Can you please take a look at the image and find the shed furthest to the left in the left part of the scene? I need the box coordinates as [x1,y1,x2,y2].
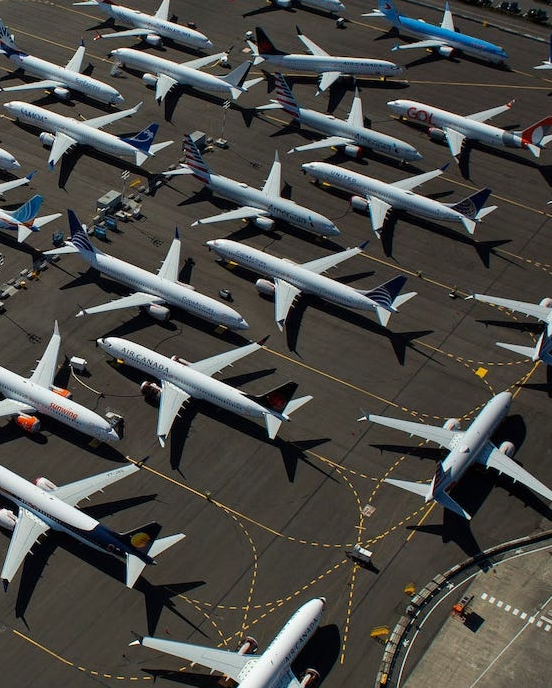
[95,190,123,215]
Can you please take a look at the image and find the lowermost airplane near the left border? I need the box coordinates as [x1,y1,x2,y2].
[0,458,185,593]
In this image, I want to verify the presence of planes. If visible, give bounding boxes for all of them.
[128,598,328,688]
[245,25,404,96]
[0,170,62,242]
[532,32,552,68]
[42,209,248,332]
[464,288,552,365]
[0,458,185,593]
[207,237,418,332]
[110,47,263,106]
[254,70,424,163]
[386,97,552,162]
[302,161,500,241]
[73,0,213,50]
[360,0,511,61]
[97,336,314,447]
[0,19,124,106]
[160,132,342,238]
[5,100,174,171]
[357,391,552,521]
[0,322,119,440]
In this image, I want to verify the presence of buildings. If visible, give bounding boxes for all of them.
[95,190,123,215]
[189,130,205,148]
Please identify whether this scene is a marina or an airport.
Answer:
airport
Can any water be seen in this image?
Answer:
No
